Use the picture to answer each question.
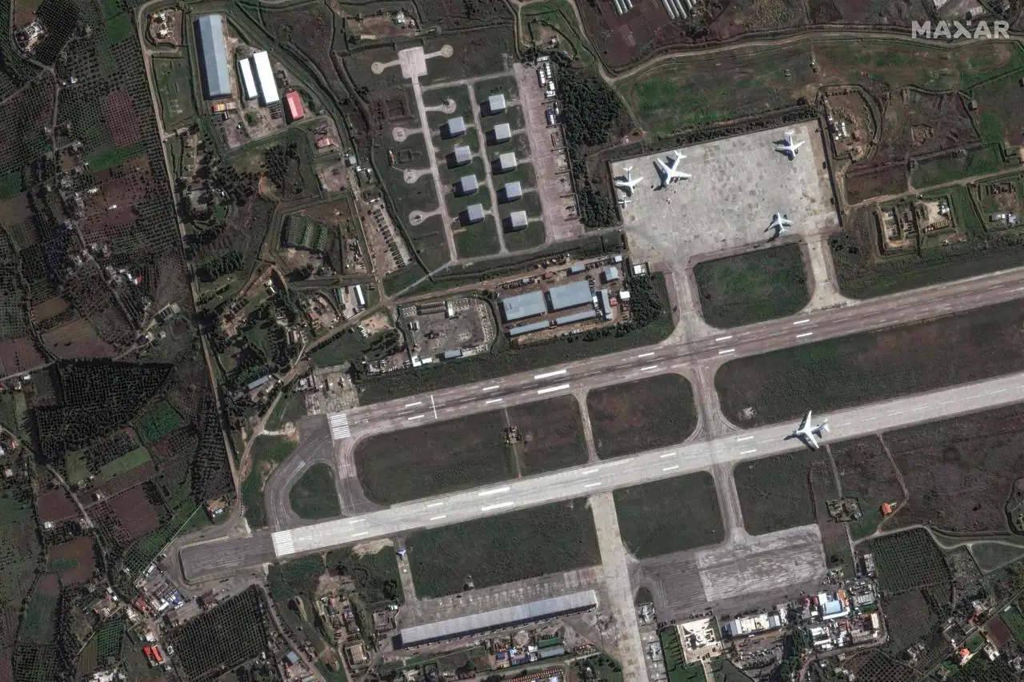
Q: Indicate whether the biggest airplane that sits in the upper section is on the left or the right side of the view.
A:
right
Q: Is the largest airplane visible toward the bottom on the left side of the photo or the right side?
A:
right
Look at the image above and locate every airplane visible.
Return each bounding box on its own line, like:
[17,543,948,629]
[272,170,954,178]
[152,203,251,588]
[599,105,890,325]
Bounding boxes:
[399,545,408,558]
[650,644,659,657]
[619,196,632,208]
[617,166,643,194]
[769,213,794,235]
[797,410,832,444]
[657,150,693,186]
[642,607,651,622]
[778,131,806,156]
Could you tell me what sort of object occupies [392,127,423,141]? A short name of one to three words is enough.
helipad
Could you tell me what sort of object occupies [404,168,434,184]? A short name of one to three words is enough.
helipad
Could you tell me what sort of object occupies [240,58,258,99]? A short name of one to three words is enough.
shed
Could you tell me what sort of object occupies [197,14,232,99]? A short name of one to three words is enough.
hangar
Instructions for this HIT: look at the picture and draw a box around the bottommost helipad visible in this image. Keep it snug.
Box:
[409,207,442,225]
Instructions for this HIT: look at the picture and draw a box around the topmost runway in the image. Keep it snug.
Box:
[330,267,1024,441]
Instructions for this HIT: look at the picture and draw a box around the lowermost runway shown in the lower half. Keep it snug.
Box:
[272,372,1024,557]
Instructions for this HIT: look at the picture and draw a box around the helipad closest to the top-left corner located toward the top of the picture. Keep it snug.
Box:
[370,60,401,74]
